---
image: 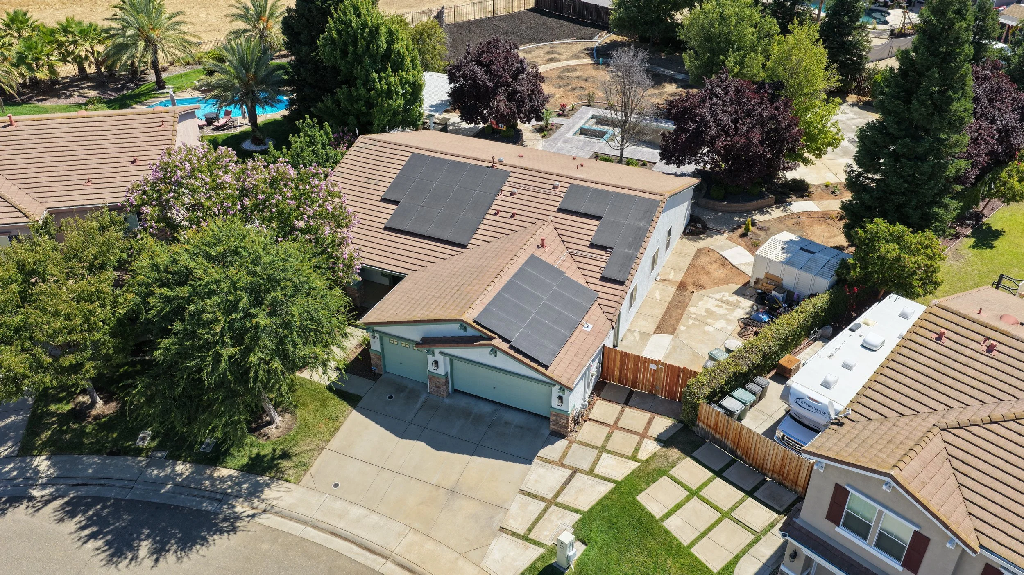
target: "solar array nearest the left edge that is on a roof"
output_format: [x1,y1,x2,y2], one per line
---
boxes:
[381,152,508,247]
